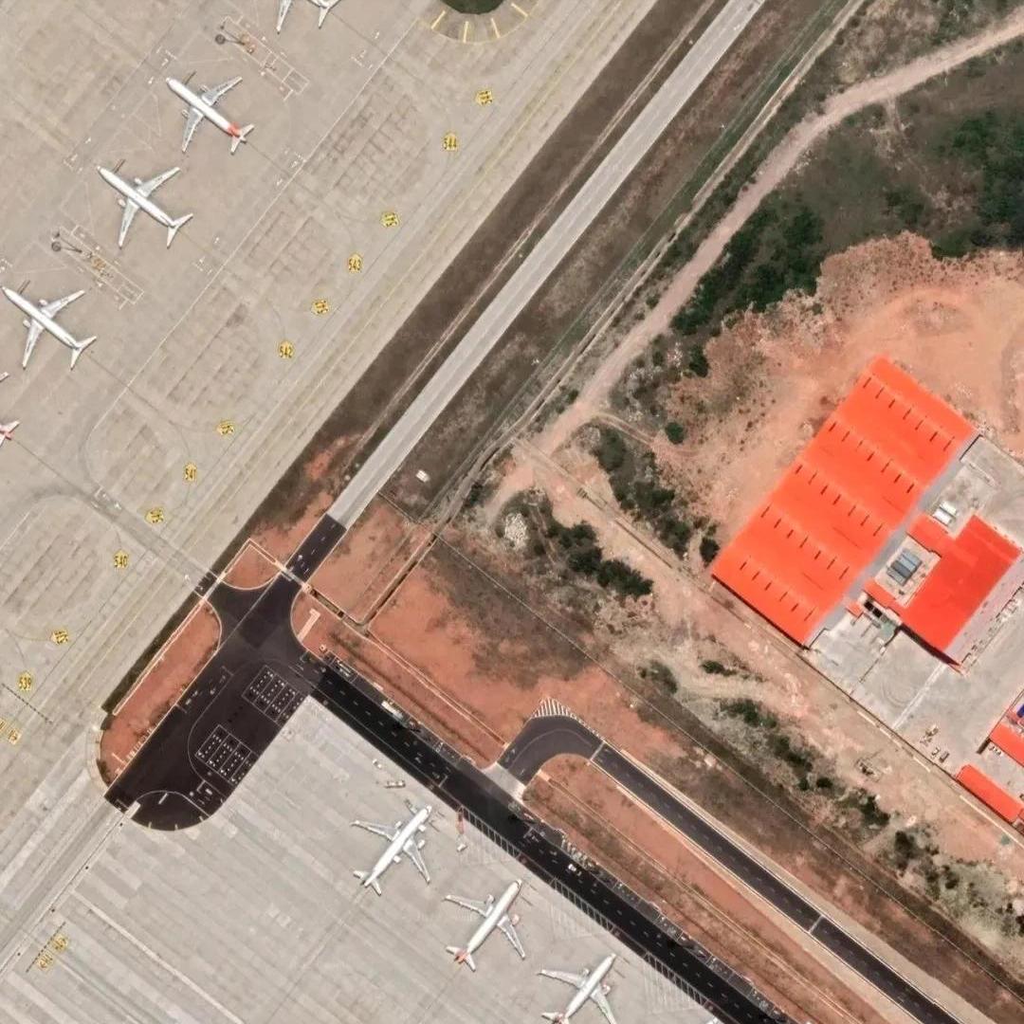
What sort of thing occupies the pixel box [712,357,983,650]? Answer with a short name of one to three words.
building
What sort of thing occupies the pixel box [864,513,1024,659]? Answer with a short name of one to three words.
building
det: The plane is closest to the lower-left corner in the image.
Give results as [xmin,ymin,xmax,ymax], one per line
[350,807,431,894]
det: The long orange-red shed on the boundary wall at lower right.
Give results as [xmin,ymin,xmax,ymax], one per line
[956,765,1024,824]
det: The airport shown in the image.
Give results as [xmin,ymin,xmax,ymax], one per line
[0,0,730,1024]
